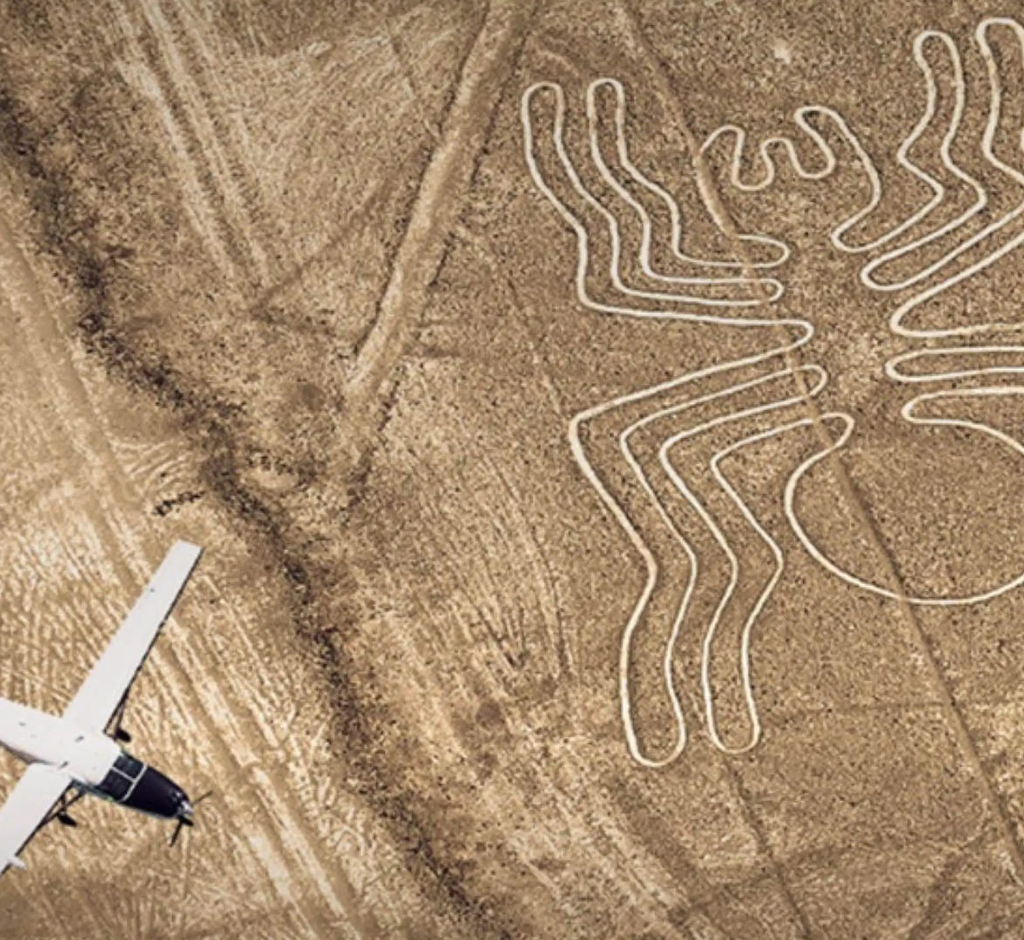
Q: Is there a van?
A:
No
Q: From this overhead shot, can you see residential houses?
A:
No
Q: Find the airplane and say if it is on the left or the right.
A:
left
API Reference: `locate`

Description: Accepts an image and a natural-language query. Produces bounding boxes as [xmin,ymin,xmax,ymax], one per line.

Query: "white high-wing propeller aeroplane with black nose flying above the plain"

[0,540,214,876]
